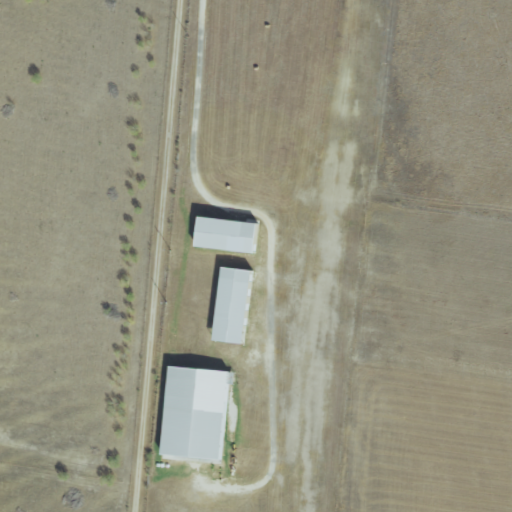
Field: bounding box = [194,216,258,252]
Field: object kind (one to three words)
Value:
hangar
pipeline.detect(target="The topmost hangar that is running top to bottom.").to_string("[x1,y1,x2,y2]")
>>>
[212,267,252,347]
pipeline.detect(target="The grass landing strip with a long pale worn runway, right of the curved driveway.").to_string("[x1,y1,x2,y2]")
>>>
[280,0,367,512]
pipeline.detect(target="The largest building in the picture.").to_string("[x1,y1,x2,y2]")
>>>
[160,366,228,461]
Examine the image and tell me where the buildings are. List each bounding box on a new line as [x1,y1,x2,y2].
[194,216,258,252]
[160,366,228,461]
[212,267,252,347]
